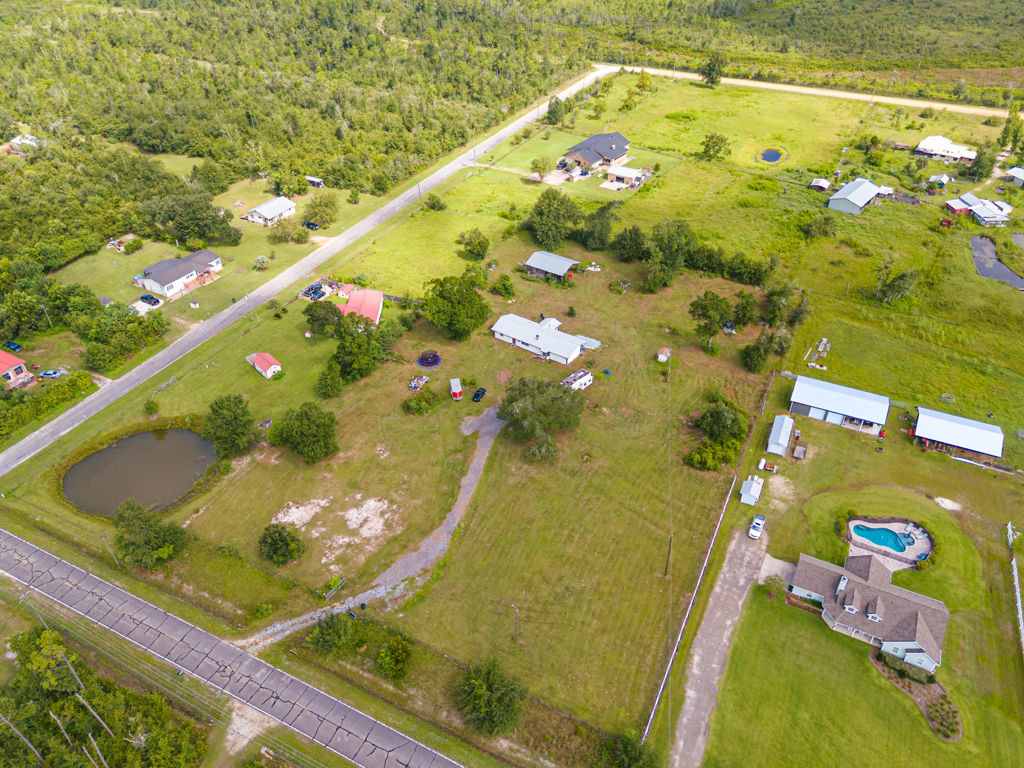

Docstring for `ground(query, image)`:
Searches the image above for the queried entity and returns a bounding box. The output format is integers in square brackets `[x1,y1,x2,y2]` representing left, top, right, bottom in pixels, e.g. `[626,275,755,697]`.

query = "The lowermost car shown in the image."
[750,513,765,537]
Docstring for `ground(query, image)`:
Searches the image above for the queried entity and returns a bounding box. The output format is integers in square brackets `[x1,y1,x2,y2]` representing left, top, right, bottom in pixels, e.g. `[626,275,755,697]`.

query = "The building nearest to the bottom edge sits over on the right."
[784,553,949,672]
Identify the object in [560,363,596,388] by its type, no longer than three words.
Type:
camper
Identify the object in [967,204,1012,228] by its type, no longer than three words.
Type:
house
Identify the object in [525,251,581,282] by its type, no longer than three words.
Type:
barn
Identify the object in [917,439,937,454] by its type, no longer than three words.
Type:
work vehicle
